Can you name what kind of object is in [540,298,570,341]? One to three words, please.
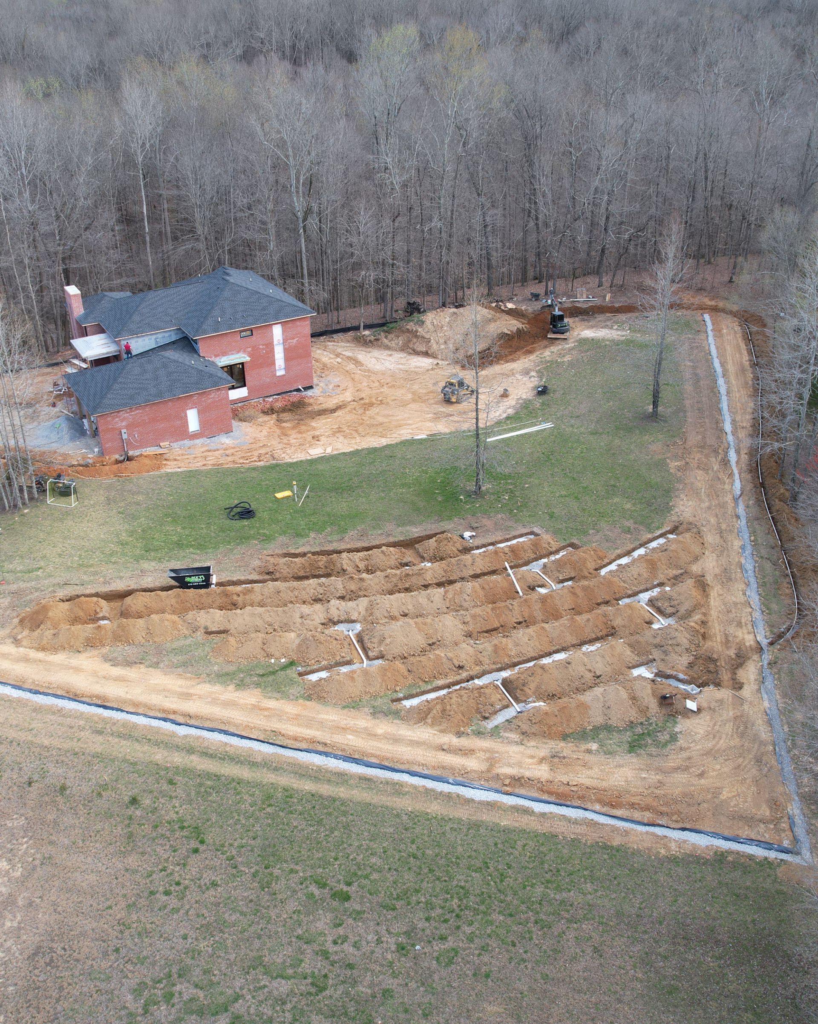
work vehicle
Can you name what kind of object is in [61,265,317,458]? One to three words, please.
house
